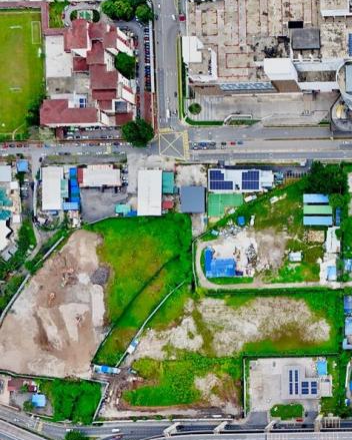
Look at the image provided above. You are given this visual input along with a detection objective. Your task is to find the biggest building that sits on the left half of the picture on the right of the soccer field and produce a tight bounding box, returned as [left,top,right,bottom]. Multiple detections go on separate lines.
[40,20,139,127]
